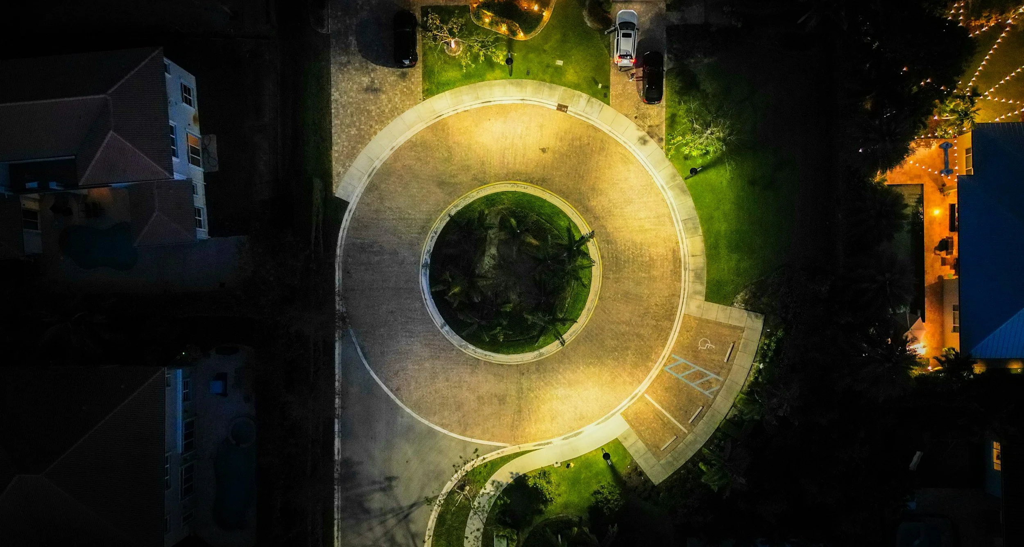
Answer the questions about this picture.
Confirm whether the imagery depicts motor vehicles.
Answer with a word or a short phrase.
Yes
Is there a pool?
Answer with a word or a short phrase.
Yes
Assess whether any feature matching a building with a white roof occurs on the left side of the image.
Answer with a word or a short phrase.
No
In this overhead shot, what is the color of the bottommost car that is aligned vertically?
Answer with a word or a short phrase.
black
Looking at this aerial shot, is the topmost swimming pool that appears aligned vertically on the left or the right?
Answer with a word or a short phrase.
right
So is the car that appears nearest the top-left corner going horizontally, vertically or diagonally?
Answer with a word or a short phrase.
vertically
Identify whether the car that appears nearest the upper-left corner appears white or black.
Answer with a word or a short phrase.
black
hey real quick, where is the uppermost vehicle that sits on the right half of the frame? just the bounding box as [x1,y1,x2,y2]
[603,10,640,68]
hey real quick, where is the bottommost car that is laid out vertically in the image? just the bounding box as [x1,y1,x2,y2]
[640,51,667,106]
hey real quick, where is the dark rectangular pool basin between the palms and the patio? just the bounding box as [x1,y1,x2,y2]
[880,184,924,304]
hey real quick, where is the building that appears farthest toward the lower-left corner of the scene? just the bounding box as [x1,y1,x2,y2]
[0,366,198,547]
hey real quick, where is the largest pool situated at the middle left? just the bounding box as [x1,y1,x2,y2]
[59,221,140,271]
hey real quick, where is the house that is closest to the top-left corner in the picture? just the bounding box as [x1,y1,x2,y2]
[0,46,209,261]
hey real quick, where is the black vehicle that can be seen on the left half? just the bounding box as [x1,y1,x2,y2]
[390,11,420,69]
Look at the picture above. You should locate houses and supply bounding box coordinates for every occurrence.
[0,46,209,261]
[943,111,1024,359]
[0,366,198,547]
[984,430,1024,547]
